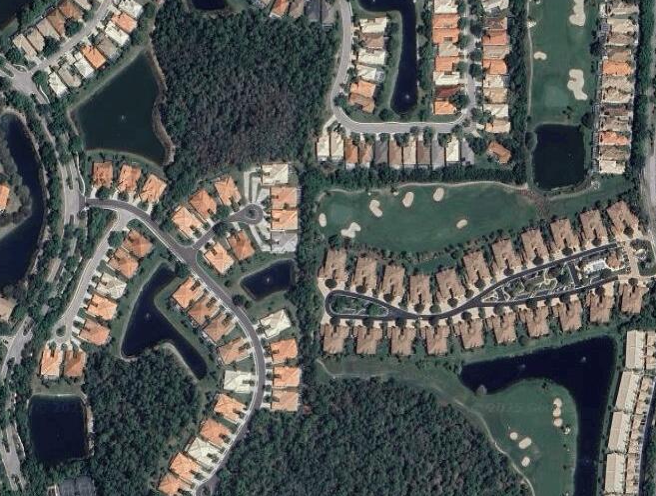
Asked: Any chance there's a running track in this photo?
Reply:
No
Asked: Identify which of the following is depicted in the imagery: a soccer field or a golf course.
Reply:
golf course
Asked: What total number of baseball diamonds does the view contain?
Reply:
zero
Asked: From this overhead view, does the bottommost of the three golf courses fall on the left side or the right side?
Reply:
right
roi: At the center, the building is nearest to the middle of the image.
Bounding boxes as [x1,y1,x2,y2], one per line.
[320,248,348,280]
